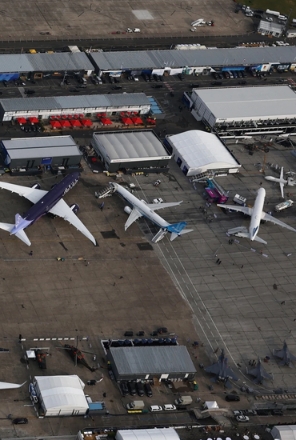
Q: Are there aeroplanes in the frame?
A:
Yes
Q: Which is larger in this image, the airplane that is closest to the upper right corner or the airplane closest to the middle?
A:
the airplane closest to the middle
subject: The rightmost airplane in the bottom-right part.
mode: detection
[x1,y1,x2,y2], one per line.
[273,342,296,370]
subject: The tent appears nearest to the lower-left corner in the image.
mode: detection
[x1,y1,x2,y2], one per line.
[30,374,91,417]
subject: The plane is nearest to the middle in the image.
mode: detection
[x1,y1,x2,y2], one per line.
[110,182,192,241]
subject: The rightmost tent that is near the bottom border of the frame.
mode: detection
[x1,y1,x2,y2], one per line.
[270,420,296,440]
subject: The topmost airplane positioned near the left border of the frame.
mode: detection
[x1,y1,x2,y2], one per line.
[0,170,94,249]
